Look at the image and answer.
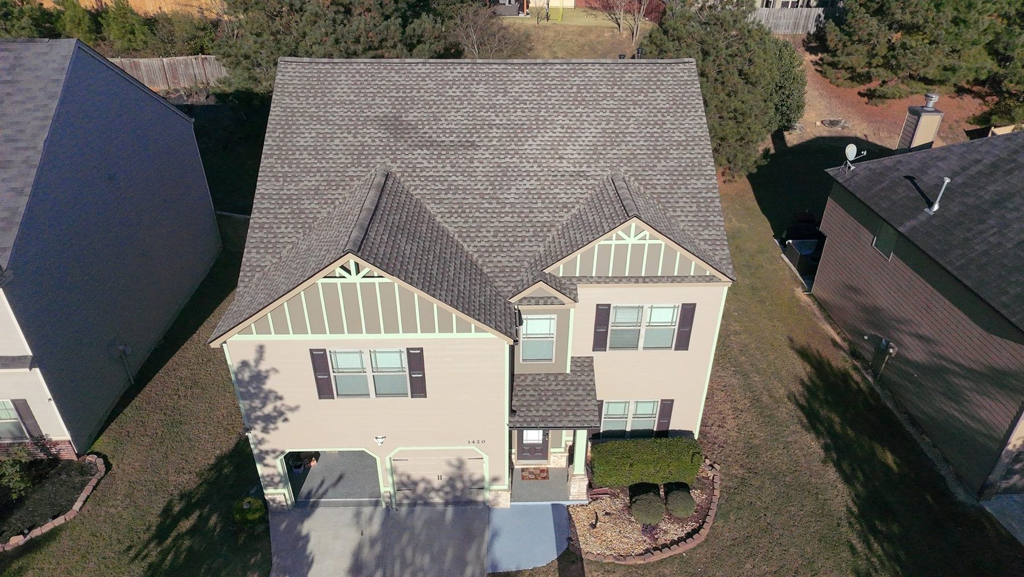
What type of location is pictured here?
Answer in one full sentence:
This looks like a residential area.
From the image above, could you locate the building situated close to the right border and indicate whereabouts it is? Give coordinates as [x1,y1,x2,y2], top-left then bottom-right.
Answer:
[813,94,1024,502]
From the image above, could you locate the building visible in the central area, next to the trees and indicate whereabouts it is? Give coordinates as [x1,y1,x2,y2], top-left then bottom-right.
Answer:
[207,48,737,510]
